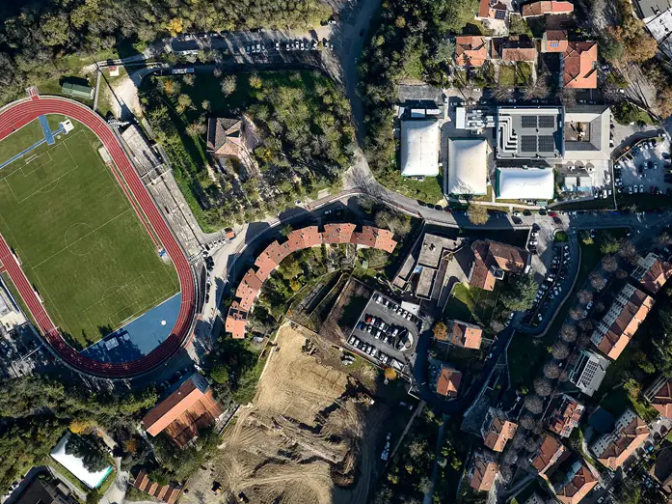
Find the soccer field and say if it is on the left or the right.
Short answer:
left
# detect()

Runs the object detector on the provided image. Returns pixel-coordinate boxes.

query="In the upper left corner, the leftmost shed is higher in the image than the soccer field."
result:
[61,82,96,99]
